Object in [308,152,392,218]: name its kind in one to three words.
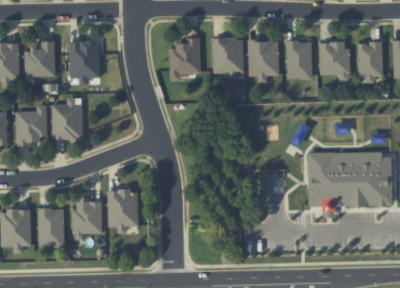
building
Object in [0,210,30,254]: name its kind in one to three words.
house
